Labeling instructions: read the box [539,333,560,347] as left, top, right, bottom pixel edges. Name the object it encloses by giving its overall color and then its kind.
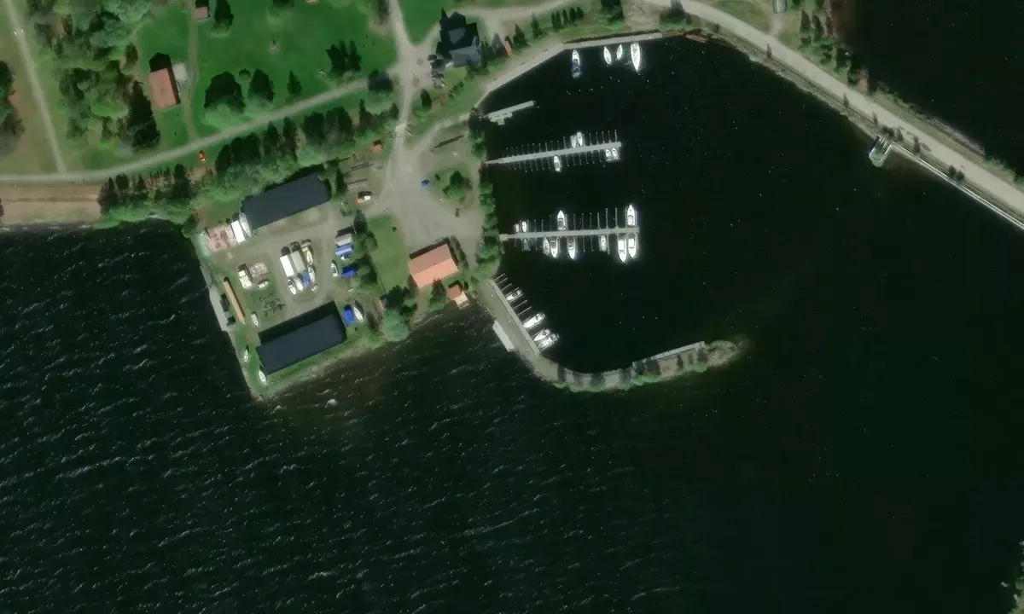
white boat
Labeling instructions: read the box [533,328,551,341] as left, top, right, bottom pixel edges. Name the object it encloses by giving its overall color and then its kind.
white boat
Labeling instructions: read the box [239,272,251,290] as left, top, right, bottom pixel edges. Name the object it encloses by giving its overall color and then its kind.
white vehicle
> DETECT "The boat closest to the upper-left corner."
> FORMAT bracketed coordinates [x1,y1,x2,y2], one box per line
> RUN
[238,213,250,236]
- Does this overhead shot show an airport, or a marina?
marina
